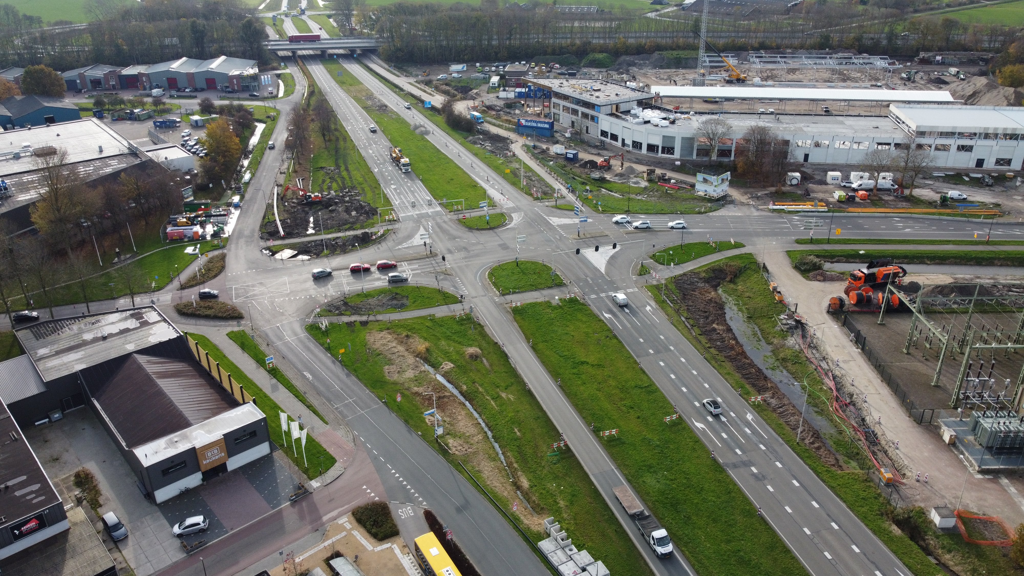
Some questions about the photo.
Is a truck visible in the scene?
Yes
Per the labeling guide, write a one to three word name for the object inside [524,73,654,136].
building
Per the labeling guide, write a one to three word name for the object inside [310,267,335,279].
vehicle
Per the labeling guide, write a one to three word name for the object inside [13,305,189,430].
building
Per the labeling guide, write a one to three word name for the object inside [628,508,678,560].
truck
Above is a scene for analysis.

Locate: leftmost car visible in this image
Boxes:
[10,310,42,323]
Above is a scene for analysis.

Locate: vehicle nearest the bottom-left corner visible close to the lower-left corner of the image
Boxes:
[96,508,130,540]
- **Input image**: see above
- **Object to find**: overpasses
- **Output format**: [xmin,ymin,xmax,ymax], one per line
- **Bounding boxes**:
[247,37,404,63]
